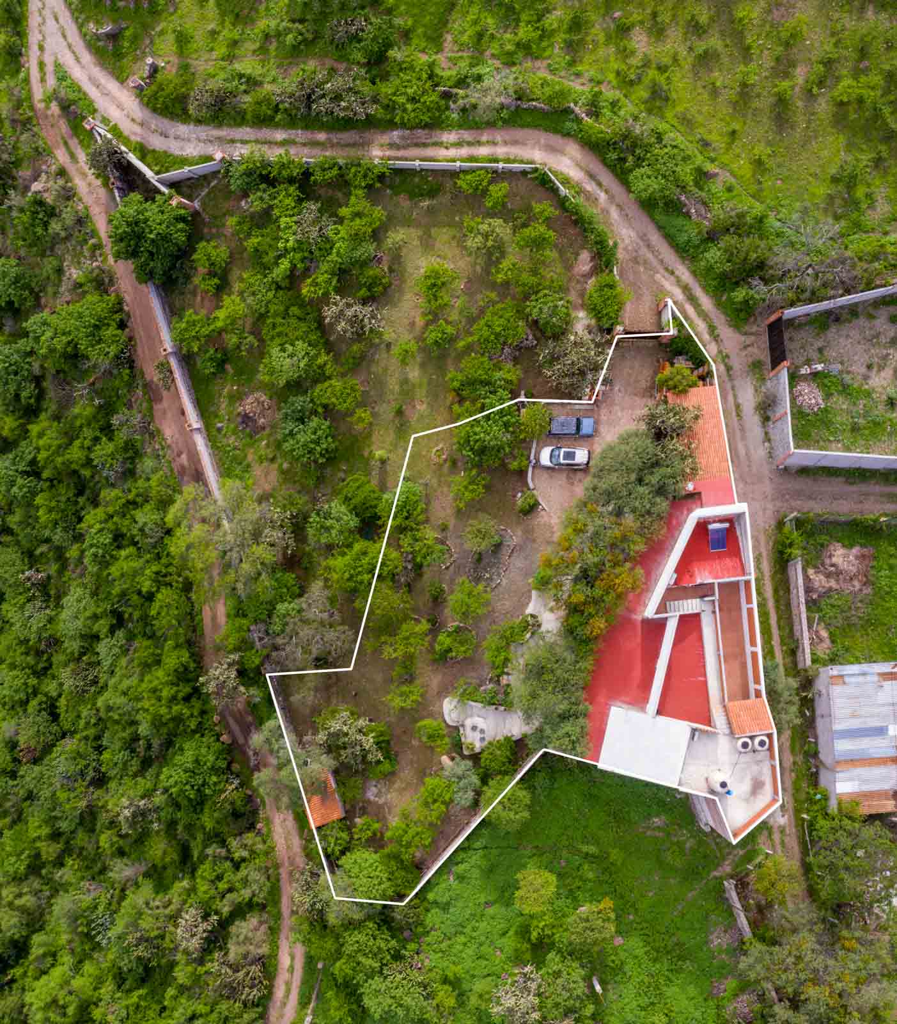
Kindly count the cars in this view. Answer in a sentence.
Looking from above, you can make out 2 cars.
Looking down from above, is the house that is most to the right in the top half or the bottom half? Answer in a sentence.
Seen from above, the house that is most to the right lies in the bottom half of the view.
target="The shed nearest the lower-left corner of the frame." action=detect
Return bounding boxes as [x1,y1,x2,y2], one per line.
[302,767,348,828]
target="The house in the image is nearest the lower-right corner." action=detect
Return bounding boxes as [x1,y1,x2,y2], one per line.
[818,662,897,814]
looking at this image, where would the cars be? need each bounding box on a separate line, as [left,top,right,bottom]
[548,414,593,439]
[539,444,590,469]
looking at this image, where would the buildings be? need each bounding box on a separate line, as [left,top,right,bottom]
[818,662,897,814]
[582,497,782,842]
[302,767,348,828]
